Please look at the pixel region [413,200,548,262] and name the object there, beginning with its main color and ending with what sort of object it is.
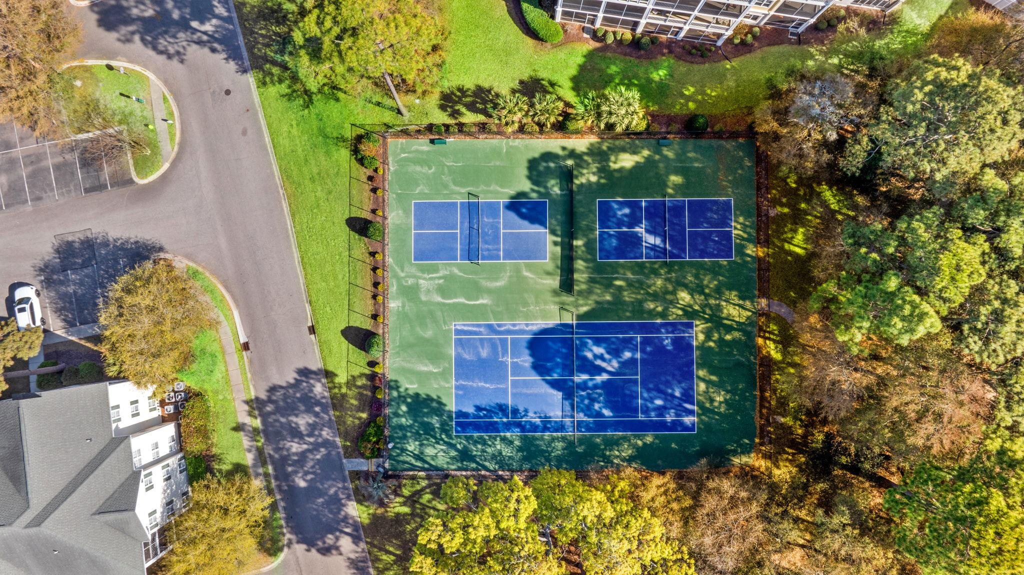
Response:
blue sports court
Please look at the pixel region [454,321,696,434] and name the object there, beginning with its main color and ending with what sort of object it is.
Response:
blue tennis court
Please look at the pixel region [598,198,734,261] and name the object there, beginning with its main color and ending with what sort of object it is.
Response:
blue sports court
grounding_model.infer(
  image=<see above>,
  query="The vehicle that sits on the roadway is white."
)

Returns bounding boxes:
[12,281,45,331]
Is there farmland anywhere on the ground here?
No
